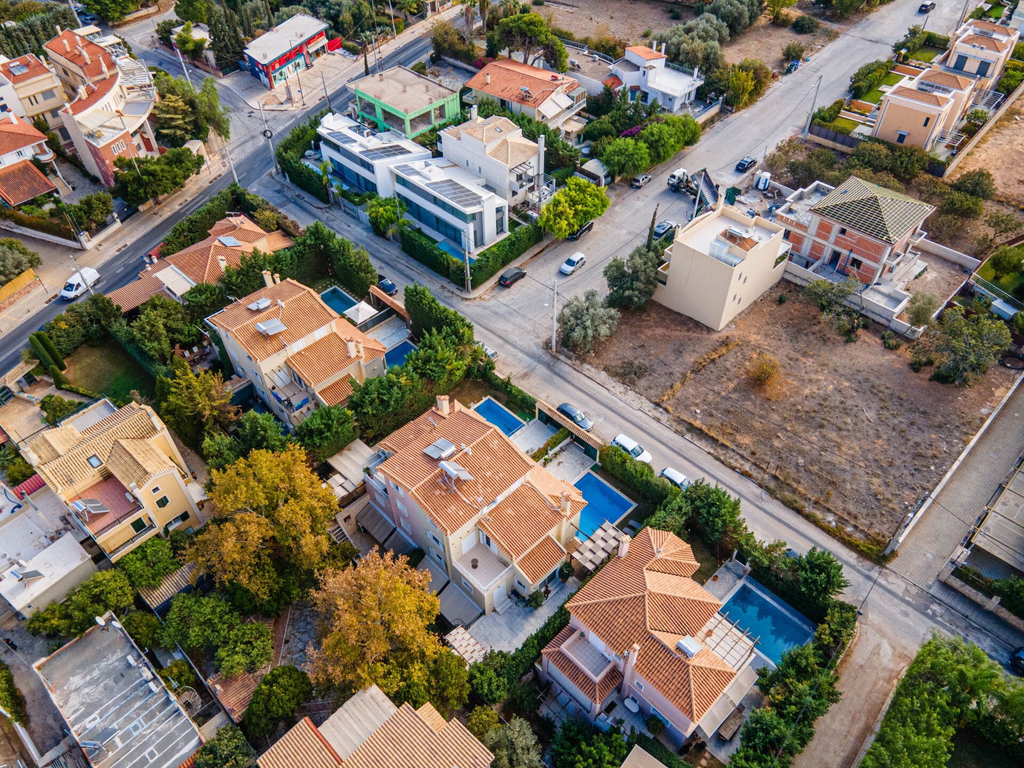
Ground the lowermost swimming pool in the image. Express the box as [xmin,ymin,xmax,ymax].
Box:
[708,571,818,668]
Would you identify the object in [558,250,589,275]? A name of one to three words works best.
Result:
car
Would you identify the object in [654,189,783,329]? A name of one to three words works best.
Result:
house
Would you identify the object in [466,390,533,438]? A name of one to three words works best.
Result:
swimming pool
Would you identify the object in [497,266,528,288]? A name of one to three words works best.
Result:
car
